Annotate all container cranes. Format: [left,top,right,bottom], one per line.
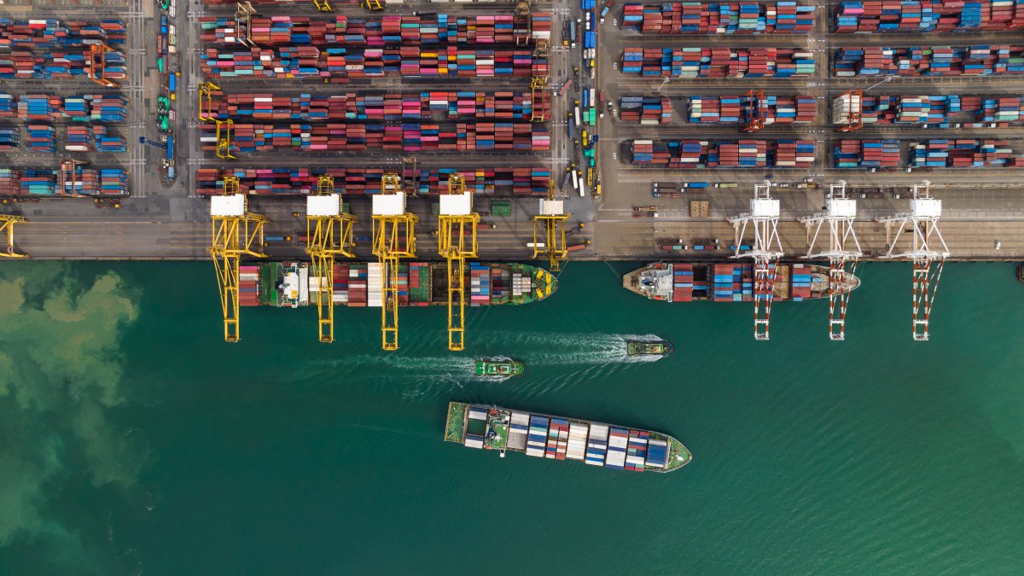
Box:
[437,174,483,351]
[514,0,532,47]
[303,174,362,341]
[214,119,241,161]
[196,78,223,123]
[0,209,34,257]
[869,177,952,342]
[740,86,765,132]
[523,179,571,280]
[721,177,785,342]
[791,177,863,342]
[60,158,92,201]
[235,1,261,47]
[836,86,865,132]
[371,174,422,351]
[532,38,551,83]
[400,153,421,199]
[528,77,546,124]
[203,173,275,341]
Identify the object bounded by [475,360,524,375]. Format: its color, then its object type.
green boat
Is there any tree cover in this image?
No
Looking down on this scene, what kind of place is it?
port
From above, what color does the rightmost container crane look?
white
